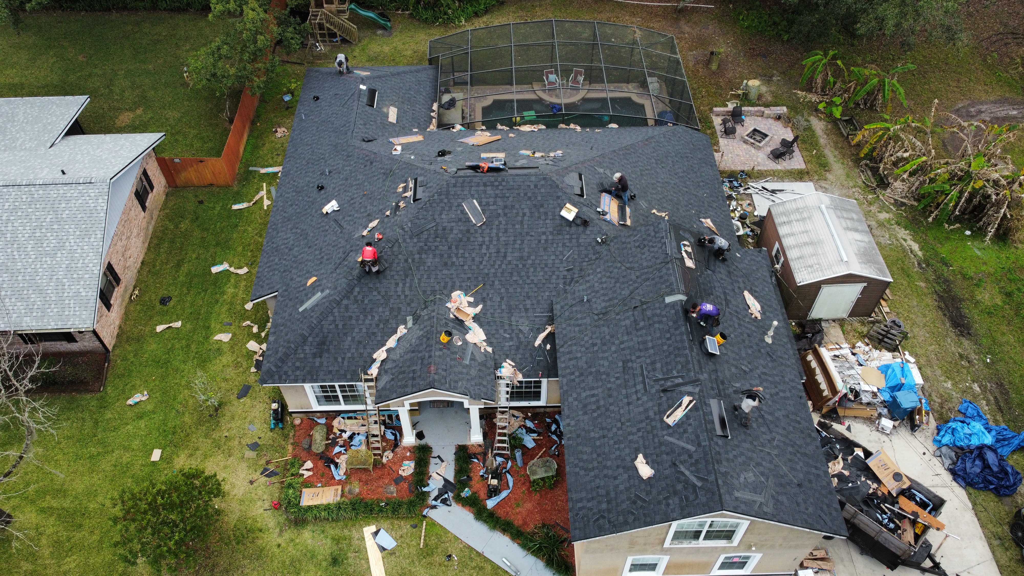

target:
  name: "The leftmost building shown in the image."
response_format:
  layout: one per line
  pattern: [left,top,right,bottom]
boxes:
[0,93,166,396]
